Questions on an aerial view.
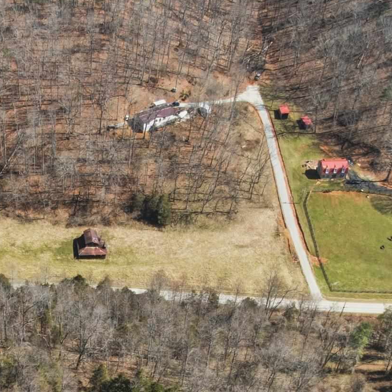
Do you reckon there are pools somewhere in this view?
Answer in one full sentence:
No, no pool is visible in the view.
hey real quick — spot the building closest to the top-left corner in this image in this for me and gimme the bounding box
[129,99,179,134]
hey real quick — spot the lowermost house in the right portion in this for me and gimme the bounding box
[301,155,349,180]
